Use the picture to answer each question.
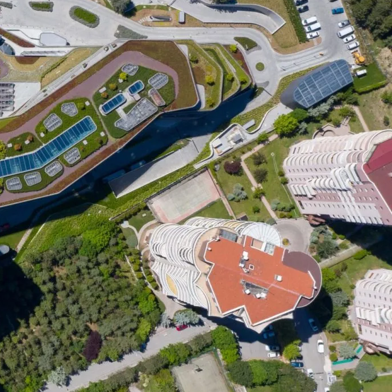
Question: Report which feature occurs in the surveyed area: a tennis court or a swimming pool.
tennis court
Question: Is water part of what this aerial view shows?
No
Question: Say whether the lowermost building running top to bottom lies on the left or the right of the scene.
right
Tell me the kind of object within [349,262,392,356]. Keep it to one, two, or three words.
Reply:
building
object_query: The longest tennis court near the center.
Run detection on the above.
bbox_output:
[147,172,220,224]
